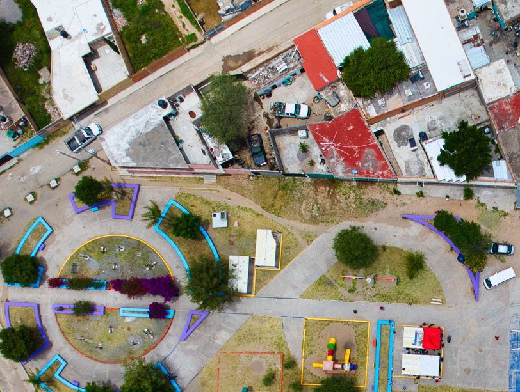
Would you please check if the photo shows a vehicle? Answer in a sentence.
Yes, a vehicle is visible in the scene.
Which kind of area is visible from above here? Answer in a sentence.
The area seen from above is a residential area.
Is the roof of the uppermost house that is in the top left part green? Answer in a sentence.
No, the roof of the uppermost house that is in the top left part is white.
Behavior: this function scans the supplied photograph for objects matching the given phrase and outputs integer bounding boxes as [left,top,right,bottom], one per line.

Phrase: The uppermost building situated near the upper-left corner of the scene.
[32,0,123,54]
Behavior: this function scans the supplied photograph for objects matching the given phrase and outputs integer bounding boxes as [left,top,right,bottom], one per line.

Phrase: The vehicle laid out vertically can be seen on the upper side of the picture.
[248,132,266,167]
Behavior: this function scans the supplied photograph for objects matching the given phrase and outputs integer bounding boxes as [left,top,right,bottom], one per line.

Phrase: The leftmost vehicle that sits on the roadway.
[62,124,103,151]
